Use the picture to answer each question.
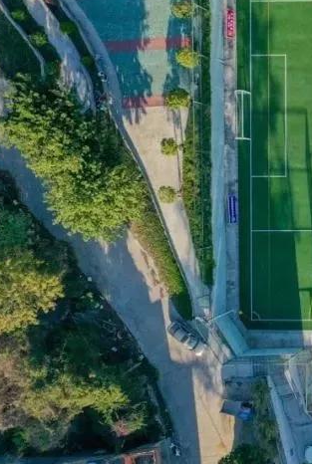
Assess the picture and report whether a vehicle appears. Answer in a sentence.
Yes, the frame does contain a vehicle.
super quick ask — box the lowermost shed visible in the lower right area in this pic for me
[213,399,250,423]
